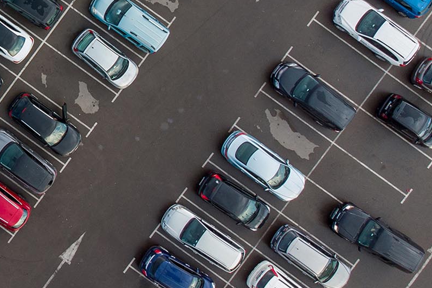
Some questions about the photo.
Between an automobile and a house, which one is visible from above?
automobile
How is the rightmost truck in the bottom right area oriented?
on a diagonal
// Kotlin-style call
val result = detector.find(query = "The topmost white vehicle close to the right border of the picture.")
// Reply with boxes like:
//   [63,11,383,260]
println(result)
[330,0,428,69]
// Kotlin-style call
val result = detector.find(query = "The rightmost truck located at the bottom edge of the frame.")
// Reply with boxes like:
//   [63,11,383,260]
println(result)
[323,195,427,277]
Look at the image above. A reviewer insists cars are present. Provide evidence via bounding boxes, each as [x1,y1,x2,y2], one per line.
[68,25,139,91]
[267,60,362,135]
[0,181,35,236]
[407,56,432,99]
[242,257,303,288]
[159,202,250,279]
[0,127,61,200]
[0,0,66,33]
[218,130,305,204]
[267,221,352,288]
[137,244,214,288]
[4,88,83,158]
[87,0,175,58]
[0,13,36,66]
[381,0,432,20]
[330,0,428,69]
[371,90,432,152]
[194,169,270,234]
